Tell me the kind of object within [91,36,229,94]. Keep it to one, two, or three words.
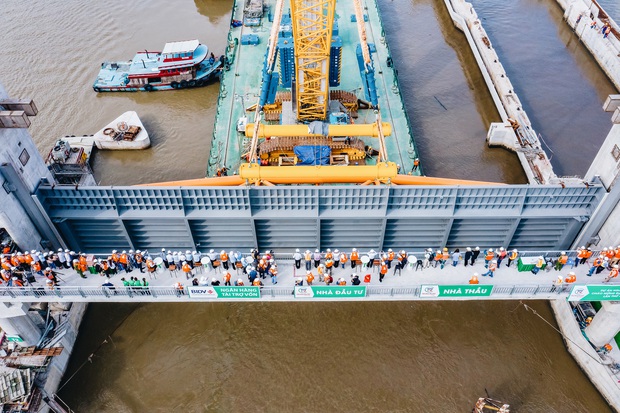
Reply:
boat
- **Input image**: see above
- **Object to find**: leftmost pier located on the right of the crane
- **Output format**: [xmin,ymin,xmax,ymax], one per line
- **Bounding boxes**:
[441,0,560,184]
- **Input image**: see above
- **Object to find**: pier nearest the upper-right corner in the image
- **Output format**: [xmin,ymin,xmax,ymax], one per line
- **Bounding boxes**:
[553,0,620,89]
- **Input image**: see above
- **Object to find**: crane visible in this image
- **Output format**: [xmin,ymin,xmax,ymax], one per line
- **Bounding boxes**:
[247,0,386,166]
